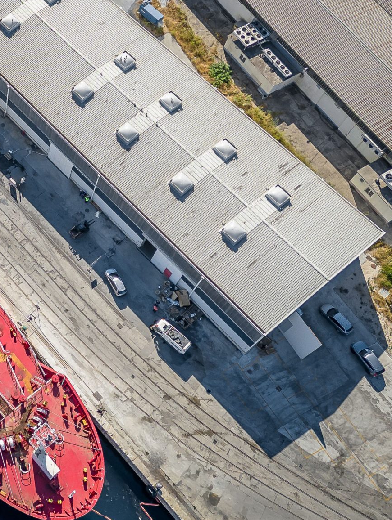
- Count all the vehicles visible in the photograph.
5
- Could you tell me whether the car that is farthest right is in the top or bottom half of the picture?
bottom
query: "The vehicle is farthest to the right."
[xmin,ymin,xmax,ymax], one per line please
[348,342,387,380]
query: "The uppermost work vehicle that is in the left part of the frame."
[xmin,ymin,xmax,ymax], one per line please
[72,217,95,237]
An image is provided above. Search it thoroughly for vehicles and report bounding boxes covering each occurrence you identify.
[101,269,132,302]
[152,319,194,359]
[318,304,355,340]
[348,342,387,380]
[72,217,95,237]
